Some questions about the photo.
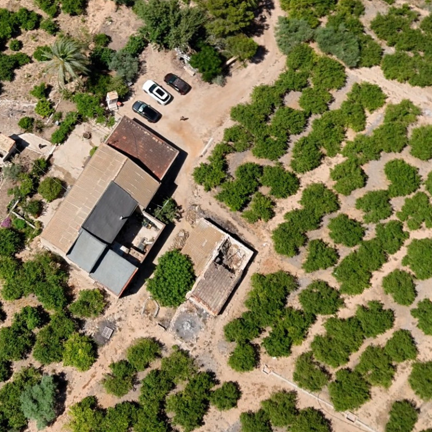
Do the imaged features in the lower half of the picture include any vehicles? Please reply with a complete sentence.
No, the scene shows no vehicle in the lower half of the picture.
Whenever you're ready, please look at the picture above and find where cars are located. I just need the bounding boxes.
[161,72,194,98]
[129,98,164,126]
[138,78,173,109]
